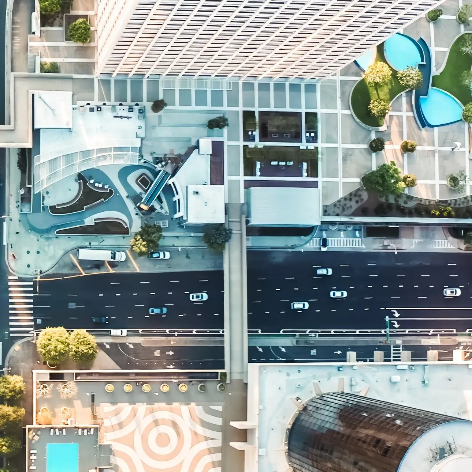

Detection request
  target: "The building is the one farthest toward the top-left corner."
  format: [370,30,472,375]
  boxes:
[32,90,146,197]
